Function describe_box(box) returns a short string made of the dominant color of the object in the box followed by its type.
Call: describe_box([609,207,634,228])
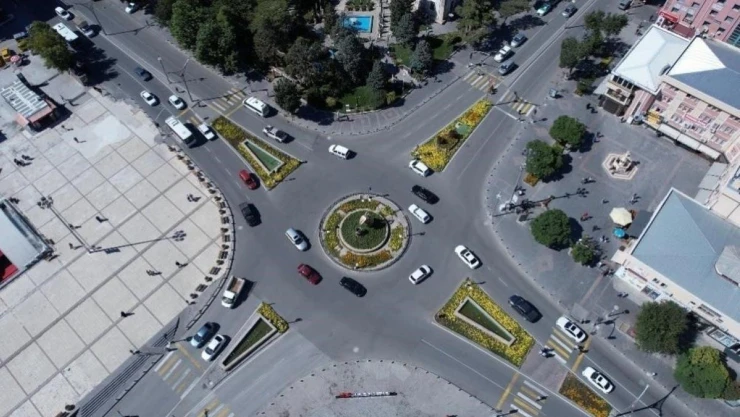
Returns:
white umbrella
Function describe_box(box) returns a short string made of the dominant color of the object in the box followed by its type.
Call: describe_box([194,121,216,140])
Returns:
white vehicle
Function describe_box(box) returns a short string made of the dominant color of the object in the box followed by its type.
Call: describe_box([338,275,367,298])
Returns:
black car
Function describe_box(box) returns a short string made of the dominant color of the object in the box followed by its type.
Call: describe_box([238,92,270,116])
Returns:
white vehicle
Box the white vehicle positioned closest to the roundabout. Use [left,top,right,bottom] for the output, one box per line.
[408,204,434,225]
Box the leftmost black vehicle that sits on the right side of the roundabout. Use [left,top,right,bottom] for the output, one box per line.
[410,184,440,205]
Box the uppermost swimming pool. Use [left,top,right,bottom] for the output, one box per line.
[338,12,374,33]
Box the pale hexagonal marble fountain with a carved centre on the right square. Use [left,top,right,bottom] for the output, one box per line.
[603,154,638,181]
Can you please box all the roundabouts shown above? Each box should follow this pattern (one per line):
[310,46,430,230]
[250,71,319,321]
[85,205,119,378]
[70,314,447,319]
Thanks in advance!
[319,193,411,272]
